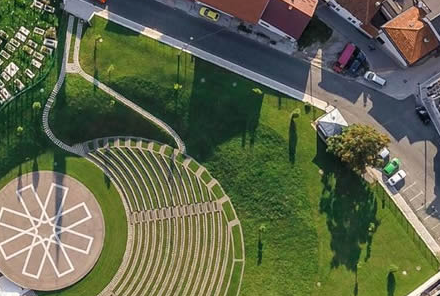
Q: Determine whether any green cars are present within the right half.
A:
Yes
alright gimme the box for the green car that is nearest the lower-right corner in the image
[379,156,401,176]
